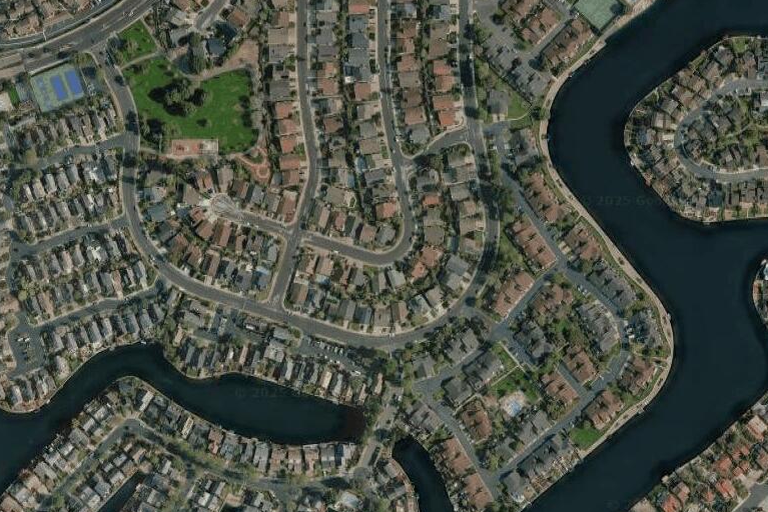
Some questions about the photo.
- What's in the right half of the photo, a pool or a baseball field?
pool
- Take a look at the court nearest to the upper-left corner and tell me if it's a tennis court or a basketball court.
tennis court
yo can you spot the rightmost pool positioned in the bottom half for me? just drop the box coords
[499,393,529,418]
